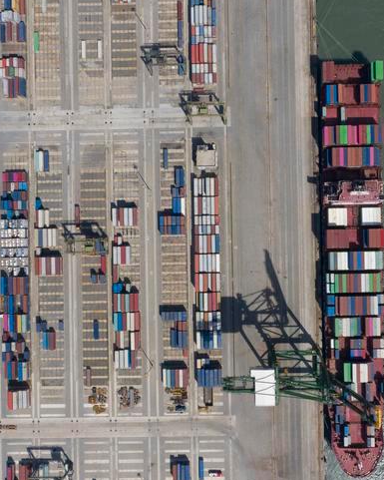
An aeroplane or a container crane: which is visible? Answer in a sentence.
I can see a container crane in this picture.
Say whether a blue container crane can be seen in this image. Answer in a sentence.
No, I can see no blue container crane in this picture.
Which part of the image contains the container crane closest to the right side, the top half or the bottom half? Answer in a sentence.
It is in the bottom half that the container crane closest to the right side appears.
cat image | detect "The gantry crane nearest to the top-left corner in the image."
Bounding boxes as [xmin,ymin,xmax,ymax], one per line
[146,52,187,79]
